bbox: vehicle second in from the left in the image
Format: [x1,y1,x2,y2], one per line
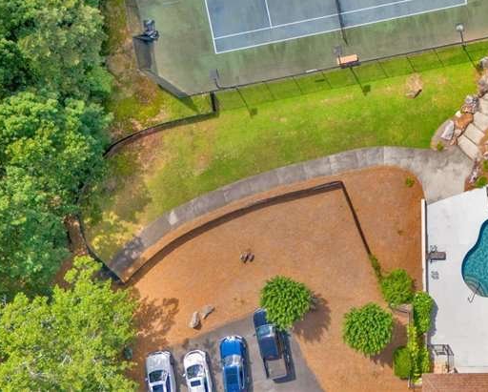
[183,347,212,392]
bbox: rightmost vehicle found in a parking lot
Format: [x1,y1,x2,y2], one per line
[252,308,288,380]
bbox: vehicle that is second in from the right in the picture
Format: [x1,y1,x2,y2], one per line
[219,334,248,392]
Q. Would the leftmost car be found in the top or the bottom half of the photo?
bottom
